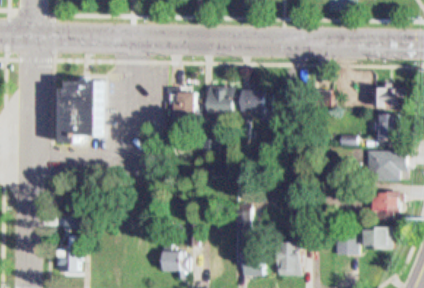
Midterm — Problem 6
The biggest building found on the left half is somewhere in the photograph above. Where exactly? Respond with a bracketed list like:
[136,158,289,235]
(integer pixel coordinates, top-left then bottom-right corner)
[57,82,106,146]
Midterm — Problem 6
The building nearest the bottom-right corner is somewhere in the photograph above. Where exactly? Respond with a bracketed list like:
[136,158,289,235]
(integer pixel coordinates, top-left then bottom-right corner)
[364,227,395,250]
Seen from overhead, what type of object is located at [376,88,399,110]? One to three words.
house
